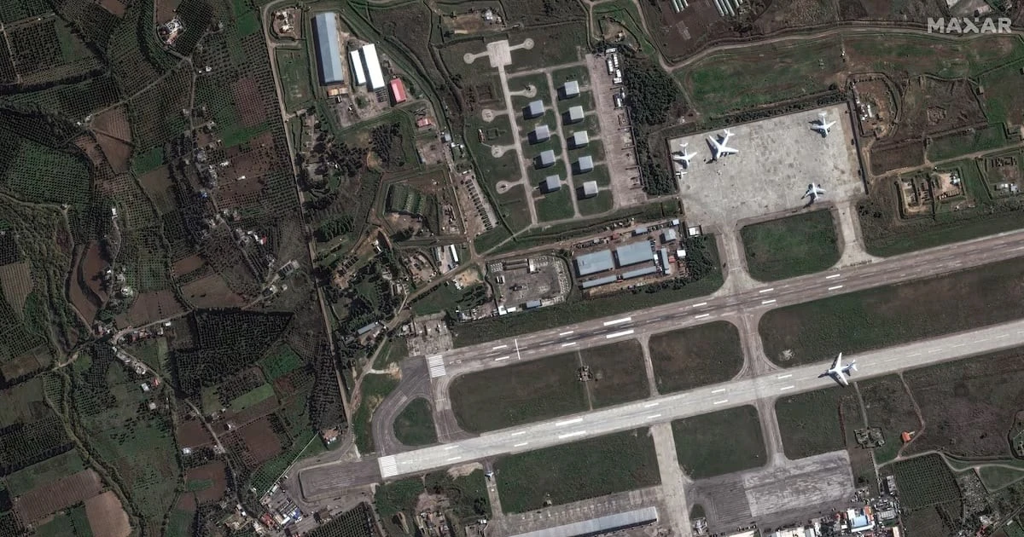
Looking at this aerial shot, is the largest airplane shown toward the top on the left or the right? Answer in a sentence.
The largest airplane shown toward the top sits on the right side.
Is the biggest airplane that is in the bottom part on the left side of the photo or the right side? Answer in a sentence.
You can find the biggest airplane that is in the bottom part on the right side of the picture.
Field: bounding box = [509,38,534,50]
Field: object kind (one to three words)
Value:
helipad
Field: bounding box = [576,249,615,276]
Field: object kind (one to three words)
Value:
building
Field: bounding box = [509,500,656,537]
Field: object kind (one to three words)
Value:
shed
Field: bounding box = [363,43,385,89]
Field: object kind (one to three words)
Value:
building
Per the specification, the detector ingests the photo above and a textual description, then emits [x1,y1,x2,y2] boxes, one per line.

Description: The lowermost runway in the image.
[378,320,1024,478]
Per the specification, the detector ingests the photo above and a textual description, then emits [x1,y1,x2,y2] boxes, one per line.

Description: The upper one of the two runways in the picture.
[427,229,1024,379]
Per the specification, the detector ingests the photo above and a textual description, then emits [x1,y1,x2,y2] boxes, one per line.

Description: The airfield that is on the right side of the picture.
[299,40,1024,537]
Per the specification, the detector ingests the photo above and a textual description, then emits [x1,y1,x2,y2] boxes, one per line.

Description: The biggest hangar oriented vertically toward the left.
[316,12,345,84]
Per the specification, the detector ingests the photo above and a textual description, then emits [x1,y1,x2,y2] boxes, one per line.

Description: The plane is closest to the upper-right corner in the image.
[814,111,836,134]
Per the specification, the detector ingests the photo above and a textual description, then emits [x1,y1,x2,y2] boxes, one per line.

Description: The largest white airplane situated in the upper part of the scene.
[709,128,739,160]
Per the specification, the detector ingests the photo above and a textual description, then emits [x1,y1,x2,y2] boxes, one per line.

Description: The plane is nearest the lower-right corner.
[827,349,858,382]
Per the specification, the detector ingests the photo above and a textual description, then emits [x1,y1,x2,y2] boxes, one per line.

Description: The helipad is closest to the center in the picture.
[497,178,527,192]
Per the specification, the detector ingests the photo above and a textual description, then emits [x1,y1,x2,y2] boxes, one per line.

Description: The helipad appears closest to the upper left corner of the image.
[463,50,489,62]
